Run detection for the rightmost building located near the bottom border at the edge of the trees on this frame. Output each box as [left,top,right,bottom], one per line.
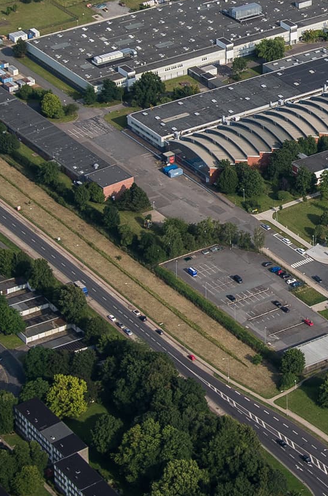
[53,455,123,496]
